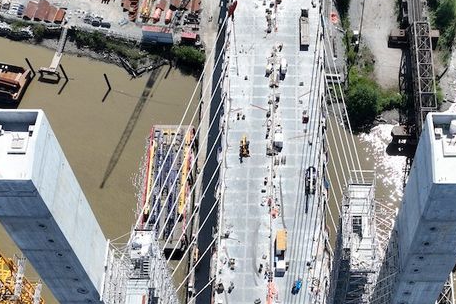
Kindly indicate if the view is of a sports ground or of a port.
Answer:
port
